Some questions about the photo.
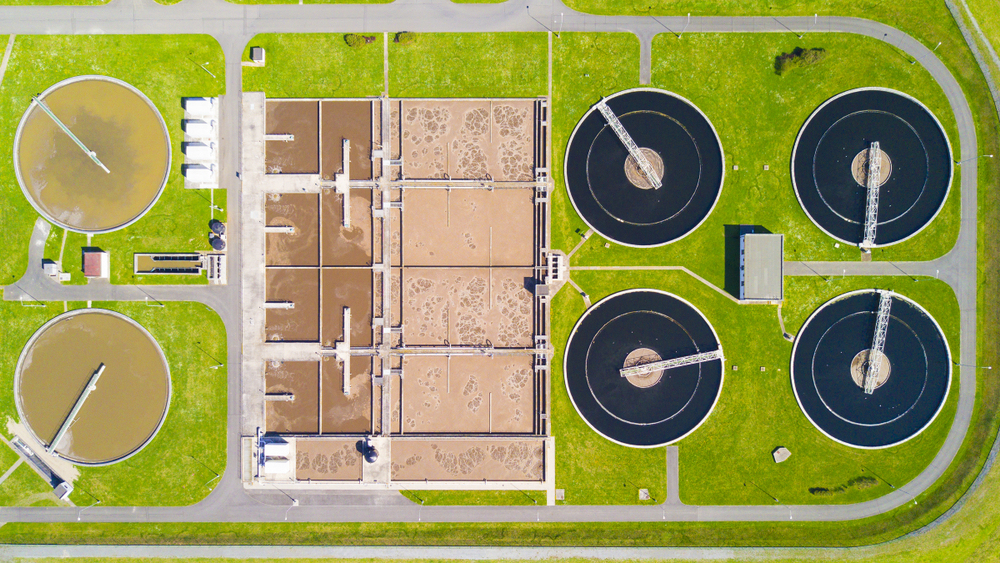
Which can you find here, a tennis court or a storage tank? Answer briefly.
storage tank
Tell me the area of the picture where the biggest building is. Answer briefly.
right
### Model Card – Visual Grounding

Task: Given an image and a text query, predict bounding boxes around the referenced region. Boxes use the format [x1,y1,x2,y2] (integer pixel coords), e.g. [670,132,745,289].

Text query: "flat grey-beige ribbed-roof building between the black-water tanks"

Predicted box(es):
[740,234,784,300]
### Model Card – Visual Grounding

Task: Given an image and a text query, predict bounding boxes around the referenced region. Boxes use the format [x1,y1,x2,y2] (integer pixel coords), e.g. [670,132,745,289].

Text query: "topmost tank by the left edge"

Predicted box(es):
[13,74,173,232]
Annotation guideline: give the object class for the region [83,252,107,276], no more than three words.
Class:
house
